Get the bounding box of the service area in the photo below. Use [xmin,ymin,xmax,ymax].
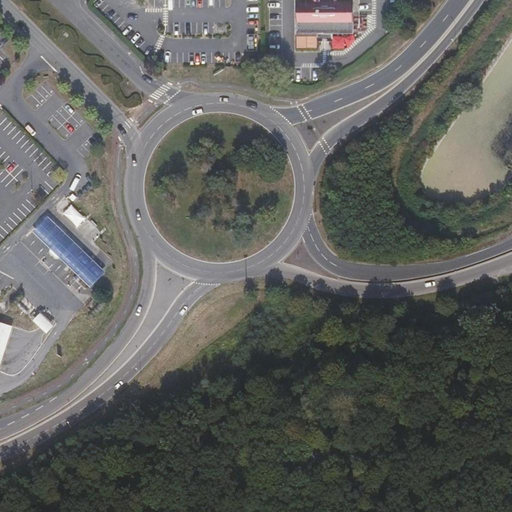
[0,201,113,304]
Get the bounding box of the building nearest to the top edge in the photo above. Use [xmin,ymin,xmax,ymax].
[296,0,354,33]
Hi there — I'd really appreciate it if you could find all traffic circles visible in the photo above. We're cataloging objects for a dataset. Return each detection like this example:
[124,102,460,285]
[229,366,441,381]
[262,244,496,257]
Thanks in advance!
[124,92,314,282]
